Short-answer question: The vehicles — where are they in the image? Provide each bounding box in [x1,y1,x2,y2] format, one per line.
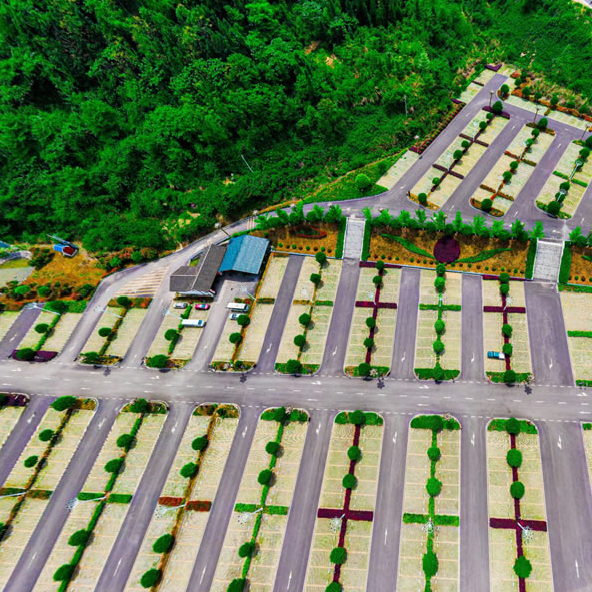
[172,303,189,310]
[487,351,505,359]
[228,314,242,321]
[181,319,206,329]
[193,303,210,311]
[225,304,250,313]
